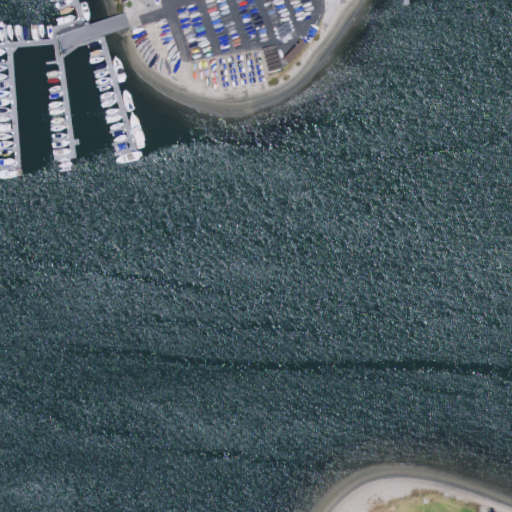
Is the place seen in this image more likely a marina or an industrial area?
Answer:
marina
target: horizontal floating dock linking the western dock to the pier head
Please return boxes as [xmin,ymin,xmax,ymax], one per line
[0,24,54,47]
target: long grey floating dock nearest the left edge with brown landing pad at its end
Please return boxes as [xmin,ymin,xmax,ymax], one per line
[0,46,22,176]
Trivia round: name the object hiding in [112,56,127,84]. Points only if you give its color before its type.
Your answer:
white boat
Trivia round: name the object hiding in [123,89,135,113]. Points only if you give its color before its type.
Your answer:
white boat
